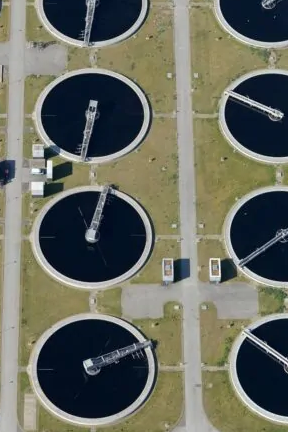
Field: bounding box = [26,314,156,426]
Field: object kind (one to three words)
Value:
water tank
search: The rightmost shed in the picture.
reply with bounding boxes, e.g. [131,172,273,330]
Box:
[209,257,222,285]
